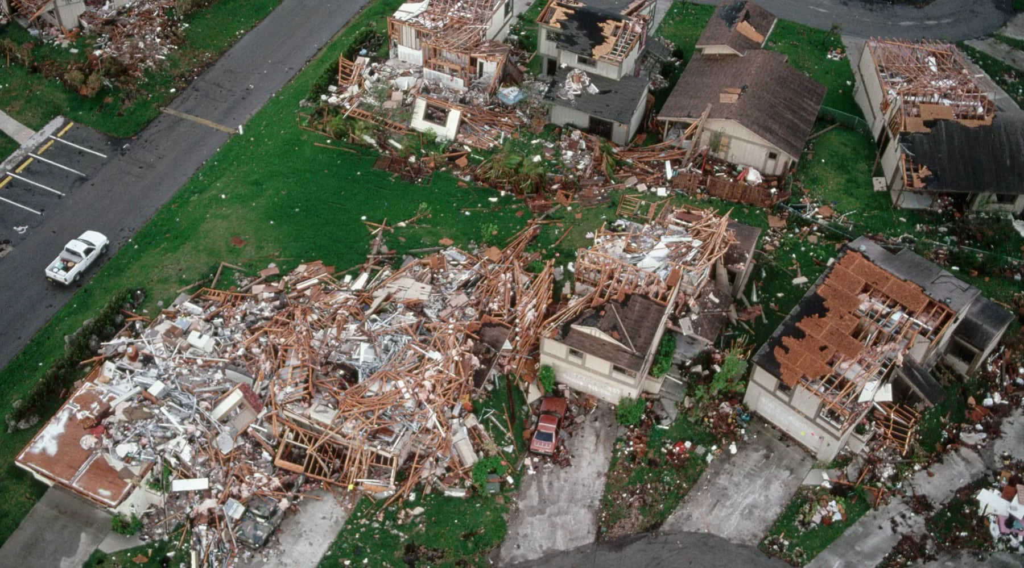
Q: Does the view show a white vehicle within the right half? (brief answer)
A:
No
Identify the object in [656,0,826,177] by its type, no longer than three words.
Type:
house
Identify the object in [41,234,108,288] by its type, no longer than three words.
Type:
truck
